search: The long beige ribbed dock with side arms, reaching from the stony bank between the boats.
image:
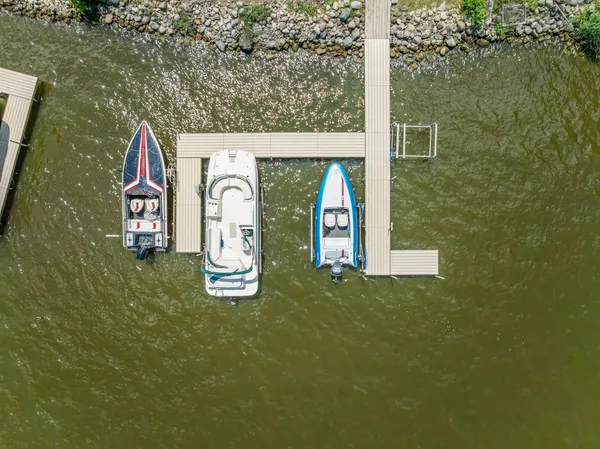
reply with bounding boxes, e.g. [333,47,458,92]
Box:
[170,36,446,281]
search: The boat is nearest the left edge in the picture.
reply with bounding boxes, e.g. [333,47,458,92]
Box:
[122,120,169,263]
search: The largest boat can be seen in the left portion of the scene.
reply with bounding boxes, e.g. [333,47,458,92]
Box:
[200,149,260,304]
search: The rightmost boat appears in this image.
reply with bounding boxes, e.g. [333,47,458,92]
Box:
[315,162,358,282]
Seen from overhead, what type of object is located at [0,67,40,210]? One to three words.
pier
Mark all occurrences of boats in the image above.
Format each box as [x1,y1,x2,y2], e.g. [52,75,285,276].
[200,149,260,304]
[315,162,358,282]
[122,120,169,263]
